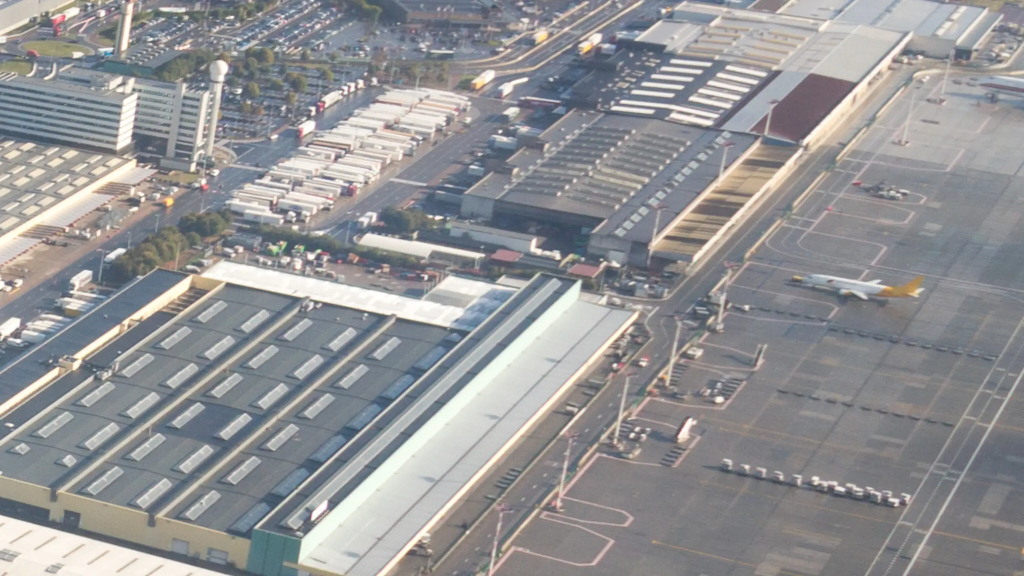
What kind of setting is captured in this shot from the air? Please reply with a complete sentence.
This image shows an airport.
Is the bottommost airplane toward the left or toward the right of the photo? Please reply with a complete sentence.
It is on the right.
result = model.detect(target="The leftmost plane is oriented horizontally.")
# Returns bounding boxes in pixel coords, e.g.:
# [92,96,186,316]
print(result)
[802,272,930,307]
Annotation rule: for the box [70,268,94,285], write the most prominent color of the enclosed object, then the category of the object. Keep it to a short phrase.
white vehicle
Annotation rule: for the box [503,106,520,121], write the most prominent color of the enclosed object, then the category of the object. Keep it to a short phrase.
white vehicle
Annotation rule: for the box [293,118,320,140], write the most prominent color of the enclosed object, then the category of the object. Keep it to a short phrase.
white truck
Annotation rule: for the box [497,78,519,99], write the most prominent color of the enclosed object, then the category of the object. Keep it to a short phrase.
white truck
